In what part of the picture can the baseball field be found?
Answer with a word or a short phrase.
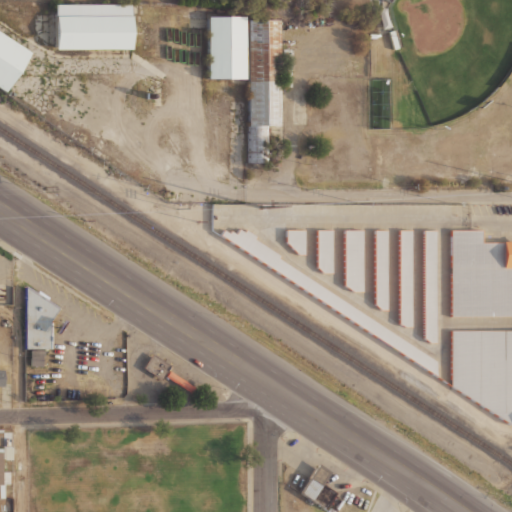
top right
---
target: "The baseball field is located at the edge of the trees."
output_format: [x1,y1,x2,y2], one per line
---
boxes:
[395,0,512,124]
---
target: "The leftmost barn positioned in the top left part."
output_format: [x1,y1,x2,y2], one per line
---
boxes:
[0,32,32,93]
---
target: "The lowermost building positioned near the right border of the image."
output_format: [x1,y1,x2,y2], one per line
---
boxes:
[450,331,512,424]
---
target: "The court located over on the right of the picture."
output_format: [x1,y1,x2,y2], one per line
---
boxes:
[370,78,391,128]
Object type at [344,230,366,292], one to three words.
building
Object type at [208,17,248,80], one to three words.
barn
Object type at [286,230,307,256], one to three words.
building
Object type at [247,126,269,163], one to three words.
shed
